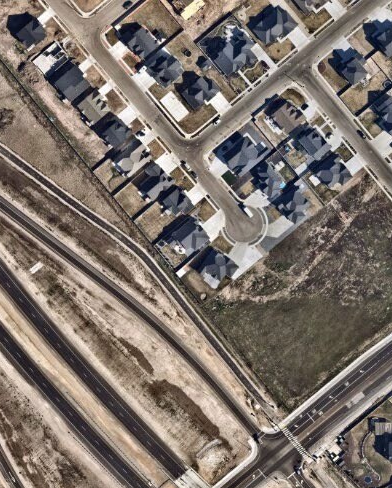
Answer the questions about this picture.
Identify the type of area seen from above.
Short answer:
residential area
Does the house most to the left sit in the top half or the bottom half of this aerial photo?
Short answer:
top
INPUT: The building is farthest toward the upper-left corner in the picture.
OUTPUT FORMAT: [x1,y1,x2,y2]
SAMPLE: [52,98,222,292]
[11,14,43,49]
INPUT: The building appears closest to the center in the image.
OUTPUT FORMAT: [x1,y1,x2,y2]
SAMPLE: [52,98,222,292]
[166,216,212,257]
